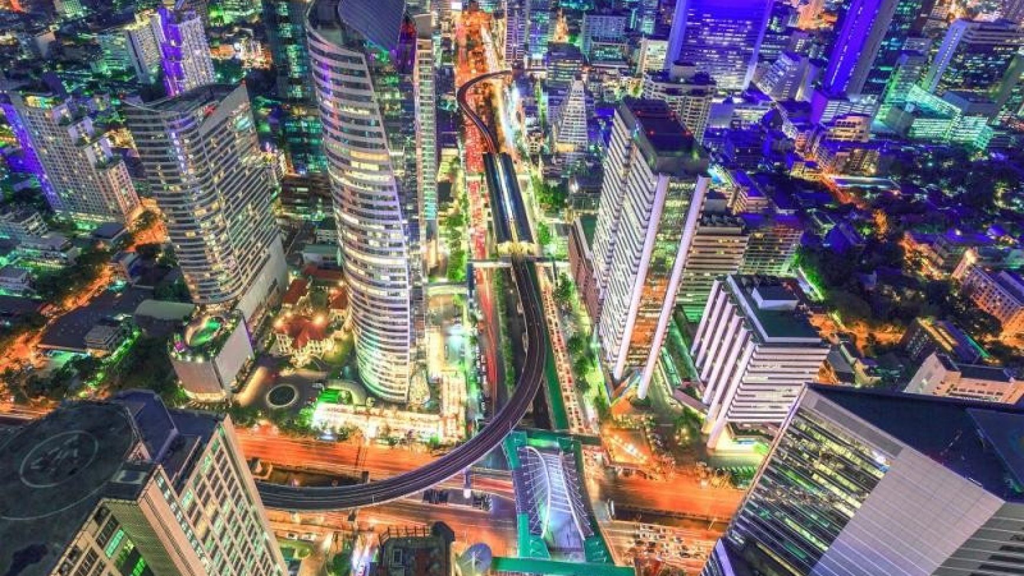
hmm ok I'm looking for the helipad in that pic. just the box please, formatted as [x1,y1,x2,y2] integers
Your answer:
[0,388,153,576]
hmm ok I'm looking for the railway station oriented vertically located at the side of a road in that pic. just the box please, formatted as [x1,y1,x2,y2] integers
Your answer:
[483,152,536,268]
